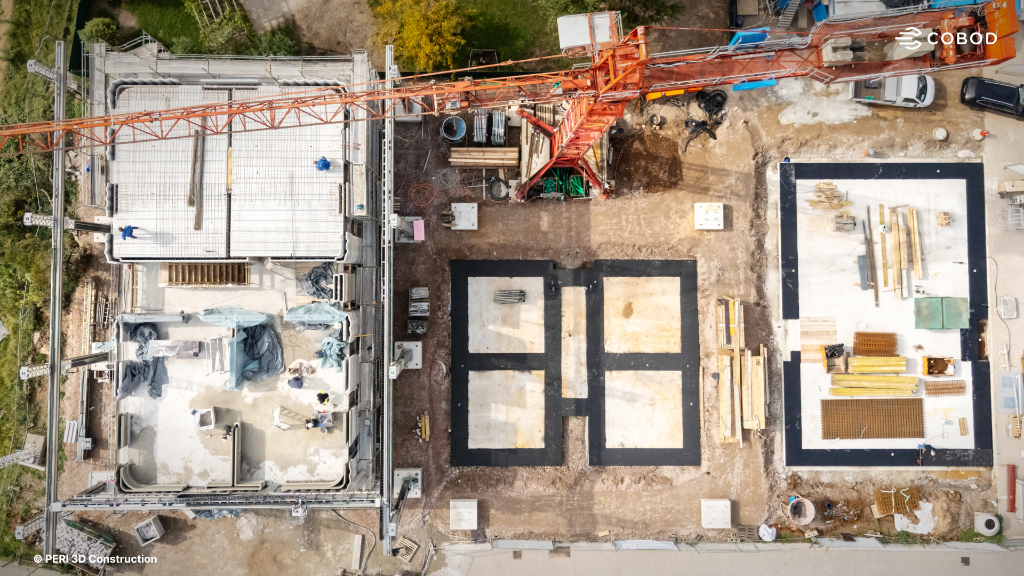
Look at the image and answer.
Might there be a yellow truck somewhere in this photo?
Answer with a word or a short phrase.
No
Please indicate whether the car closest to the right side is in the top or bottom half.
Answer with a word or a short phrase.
top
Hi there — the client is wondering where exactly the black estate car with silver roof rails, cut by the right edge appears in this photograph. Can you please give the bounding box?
[960,75,1024,125]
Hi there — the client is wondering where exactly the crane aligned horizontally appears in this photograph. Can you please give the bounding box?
[0,0,1002,203]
